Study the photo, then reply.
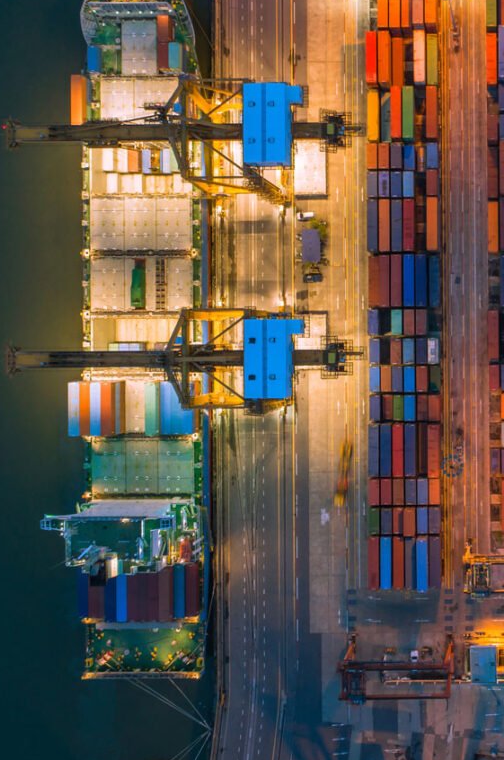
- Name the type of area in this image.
port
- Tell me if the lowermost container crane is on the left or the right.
right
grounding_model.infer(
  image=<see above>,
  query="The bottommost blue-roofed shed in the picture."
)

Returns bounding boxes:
[461,640,504,682]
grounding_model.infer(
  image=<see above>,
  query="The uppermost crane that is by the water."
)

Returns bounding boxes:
[4,71,367,218]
